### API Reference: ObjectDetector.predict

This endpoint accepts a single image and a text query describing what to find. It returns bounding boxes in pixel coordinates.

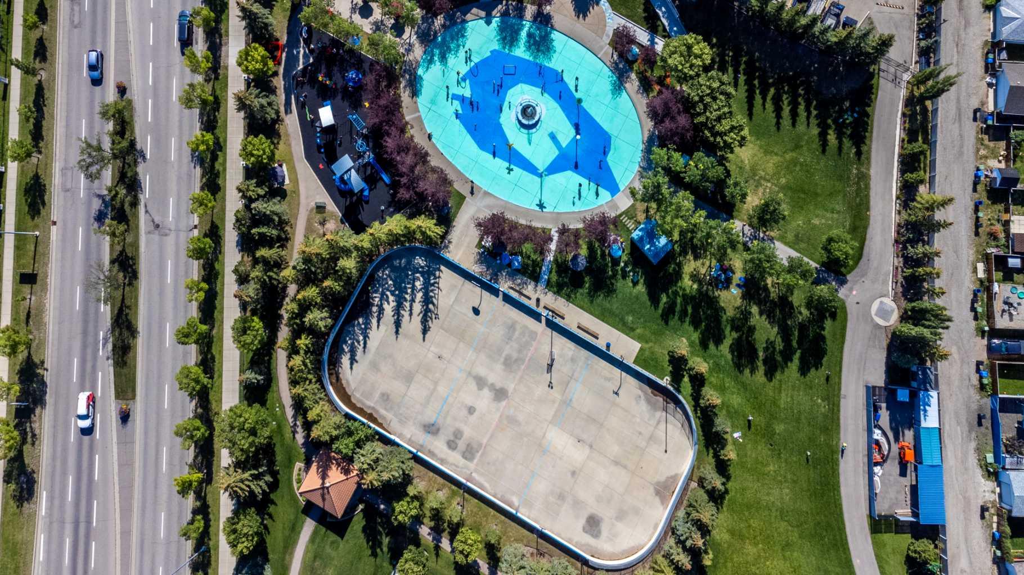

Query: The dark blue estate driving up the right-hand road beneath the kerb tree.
[174,8,193,43]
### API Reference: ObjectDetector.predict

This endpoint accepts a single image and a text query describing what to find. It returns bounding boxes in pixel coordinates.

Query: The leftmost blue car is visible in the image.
[83,50,102,80]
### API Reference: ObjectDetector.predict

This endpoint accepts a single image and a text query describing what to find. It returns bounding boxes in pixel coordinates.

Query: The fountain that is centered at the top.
[512,97,547,130]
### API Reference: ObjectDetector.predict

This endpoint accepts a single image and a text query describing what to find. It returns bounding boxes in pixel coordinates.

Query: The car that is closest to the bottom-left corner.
[75,392,95,426]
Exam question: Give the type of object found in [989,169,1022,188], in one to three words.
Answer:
shed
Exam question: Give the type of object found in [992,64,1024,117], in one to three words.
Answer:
building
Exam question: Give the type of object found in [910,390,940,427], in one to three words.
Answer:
shed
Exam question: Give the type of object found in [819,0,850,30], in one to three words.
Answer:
truck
